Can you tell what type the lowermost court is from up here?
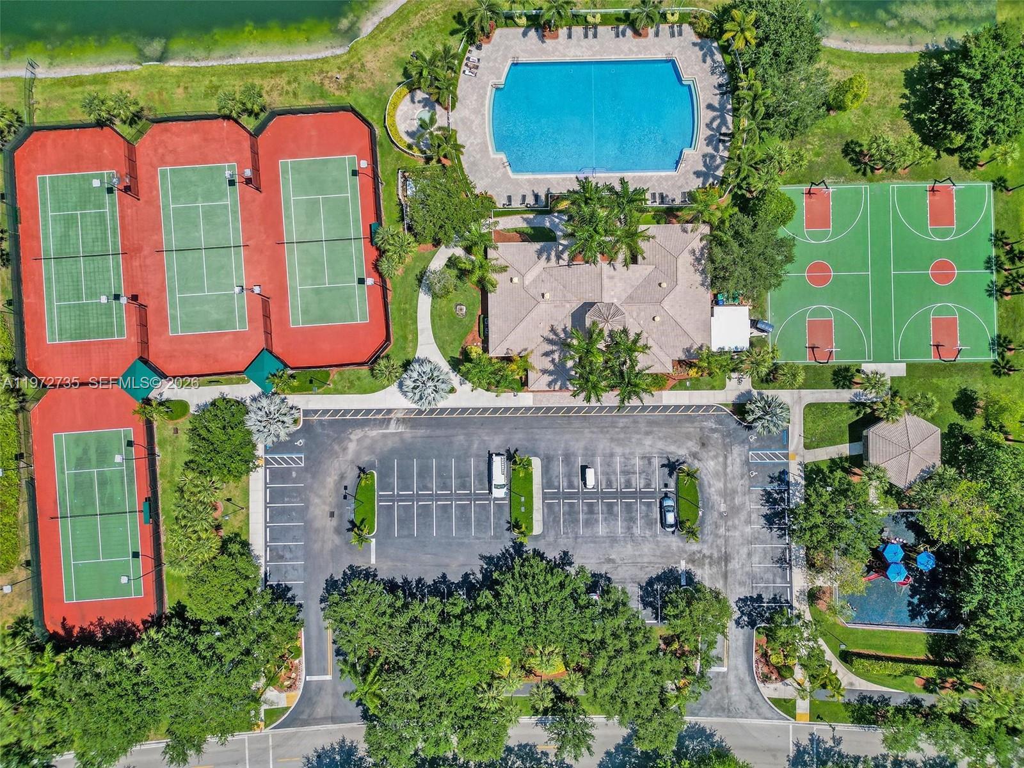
tennis court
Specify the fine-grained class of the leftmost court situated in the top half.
tennis court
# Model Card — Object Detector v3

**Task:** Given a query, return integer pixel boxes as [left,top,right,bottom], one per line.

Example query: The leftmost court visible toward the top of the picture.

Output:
[15,127,149,387]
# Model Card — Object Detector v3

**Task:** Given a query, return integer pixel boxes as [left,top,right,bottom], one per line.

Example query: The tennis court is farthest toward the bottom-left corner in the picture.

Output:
[31,385,167,634]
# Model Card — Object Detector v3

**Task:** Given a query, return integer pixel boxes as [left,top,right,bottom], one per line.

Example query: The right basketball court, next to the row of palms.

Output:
[878,181,998,363]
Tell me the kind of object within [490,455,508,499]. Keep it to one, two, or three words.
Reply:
vehicle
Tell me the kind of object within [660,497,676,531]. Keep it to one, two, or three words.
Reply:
car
